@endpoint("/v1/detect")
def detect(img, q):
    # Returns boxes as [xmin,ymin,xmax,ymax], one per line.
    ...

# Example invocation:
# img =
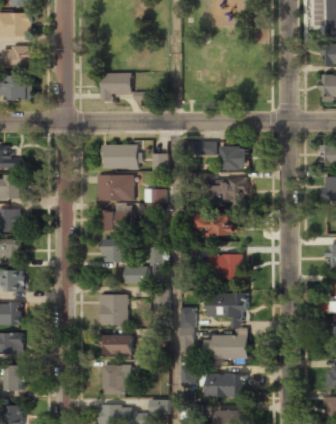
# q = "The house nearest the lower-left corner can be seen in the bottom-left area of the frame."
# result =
[6,406,24,424]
